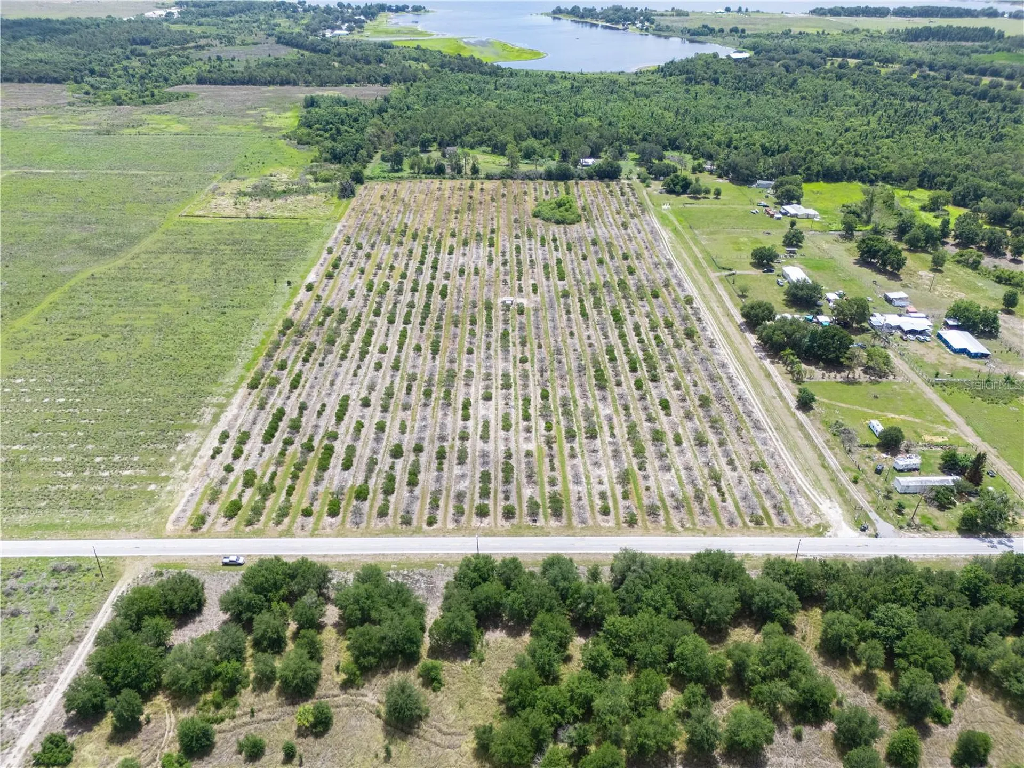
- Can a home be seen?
Yes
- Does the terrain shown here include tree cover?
Yes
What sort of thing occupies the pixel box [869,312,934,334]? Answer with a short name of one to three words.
building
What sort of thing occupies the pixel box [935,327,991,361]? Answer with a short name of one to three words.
house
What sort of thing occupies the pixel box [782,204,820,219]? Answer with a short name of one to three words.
house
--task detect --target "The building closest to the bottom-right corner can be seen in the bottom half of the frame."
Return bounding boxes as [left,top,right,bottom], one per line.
[893,476,957,493]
